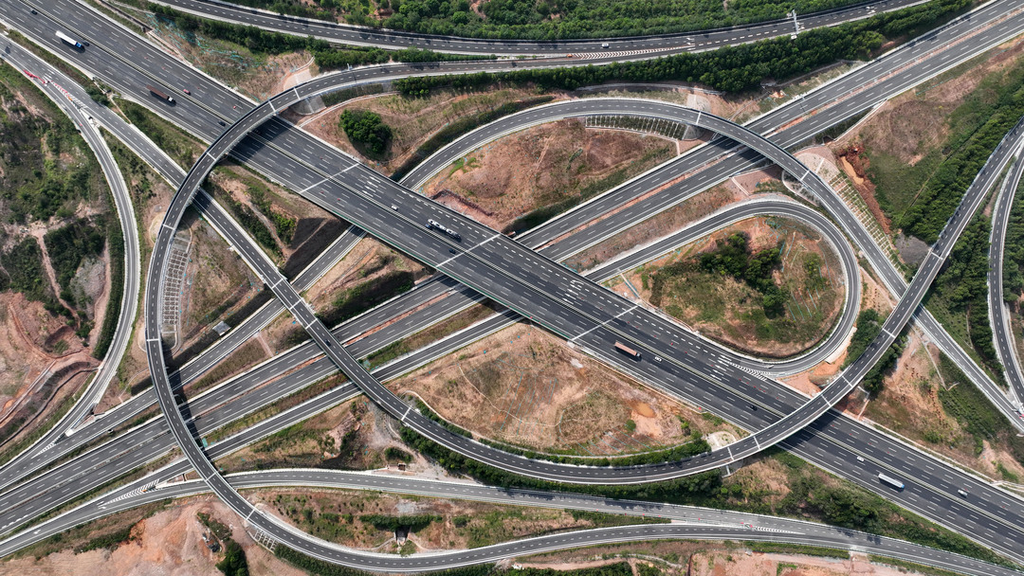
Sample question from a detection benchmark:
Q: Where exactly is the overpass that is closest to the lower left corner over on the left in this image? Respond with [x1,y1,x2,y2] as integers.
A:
[147,338,254,519]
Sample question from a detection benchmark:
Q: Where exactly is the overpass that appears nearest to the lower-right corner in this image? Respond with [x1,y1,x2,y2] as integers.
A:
[727,250,945,461]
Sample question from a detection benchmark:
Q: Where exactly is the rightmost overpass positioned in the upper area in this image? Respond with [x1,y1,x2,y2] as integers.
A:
[695,112,810,181]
